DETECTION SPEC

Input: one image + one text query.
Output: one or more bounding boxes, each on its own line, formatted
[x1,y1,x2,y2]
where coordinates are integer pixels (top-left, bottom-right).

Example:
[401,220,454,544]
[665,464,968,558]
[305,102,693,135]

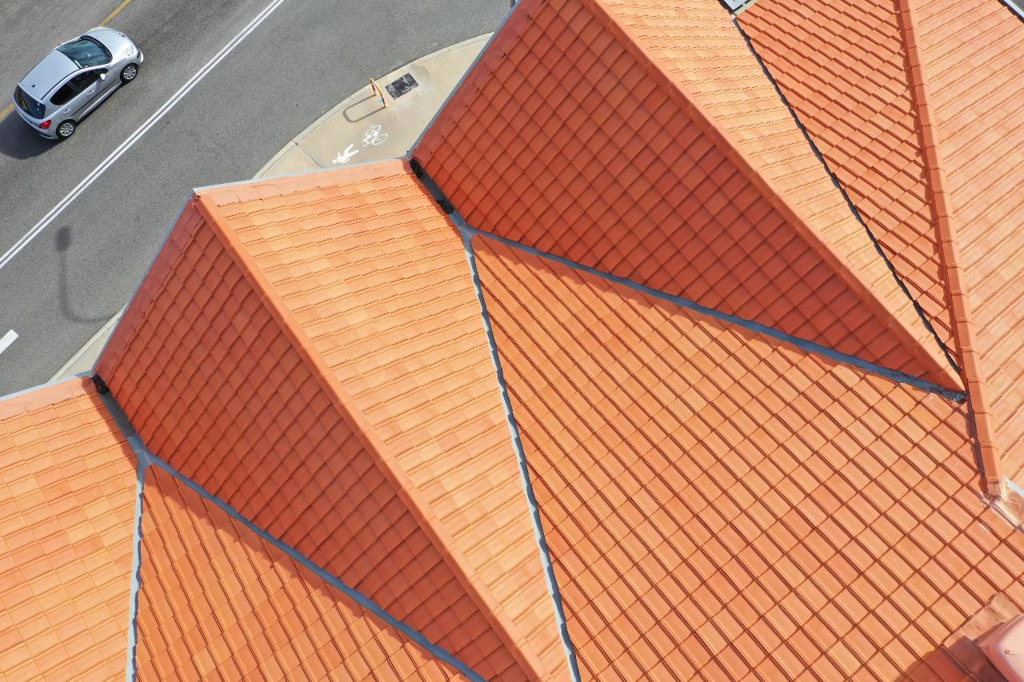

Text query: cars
[10,25,142,137]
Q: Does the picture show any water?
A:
No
